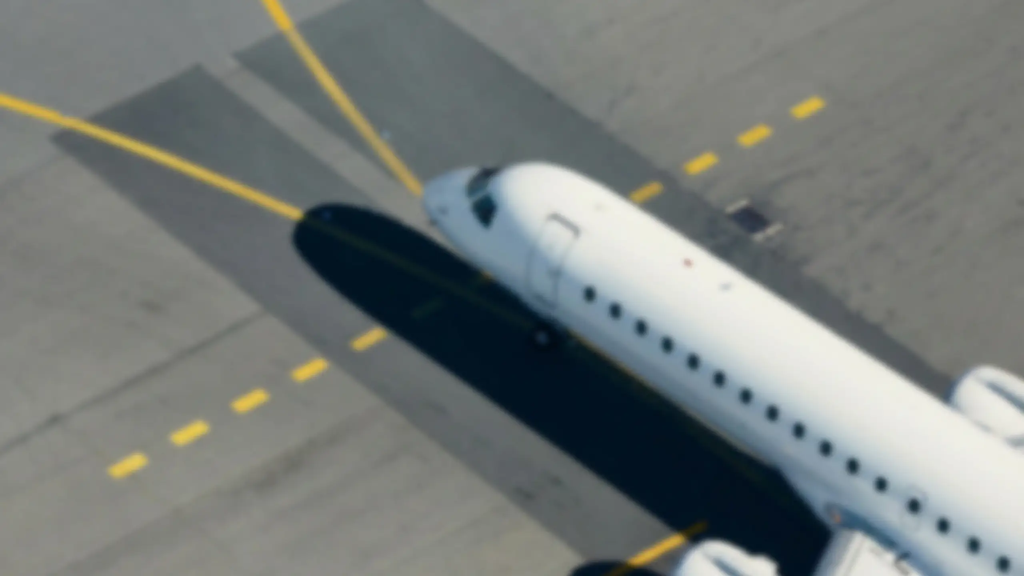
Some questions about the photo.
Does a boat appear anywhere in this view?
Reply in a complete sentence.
No, the picture doesn't show any boat.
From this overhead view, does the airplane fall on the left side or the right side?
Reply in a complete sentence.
It is on the right.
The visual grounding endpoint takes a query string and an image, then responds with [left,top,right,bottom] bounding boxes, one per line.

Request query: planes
[420,162,1024,576]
